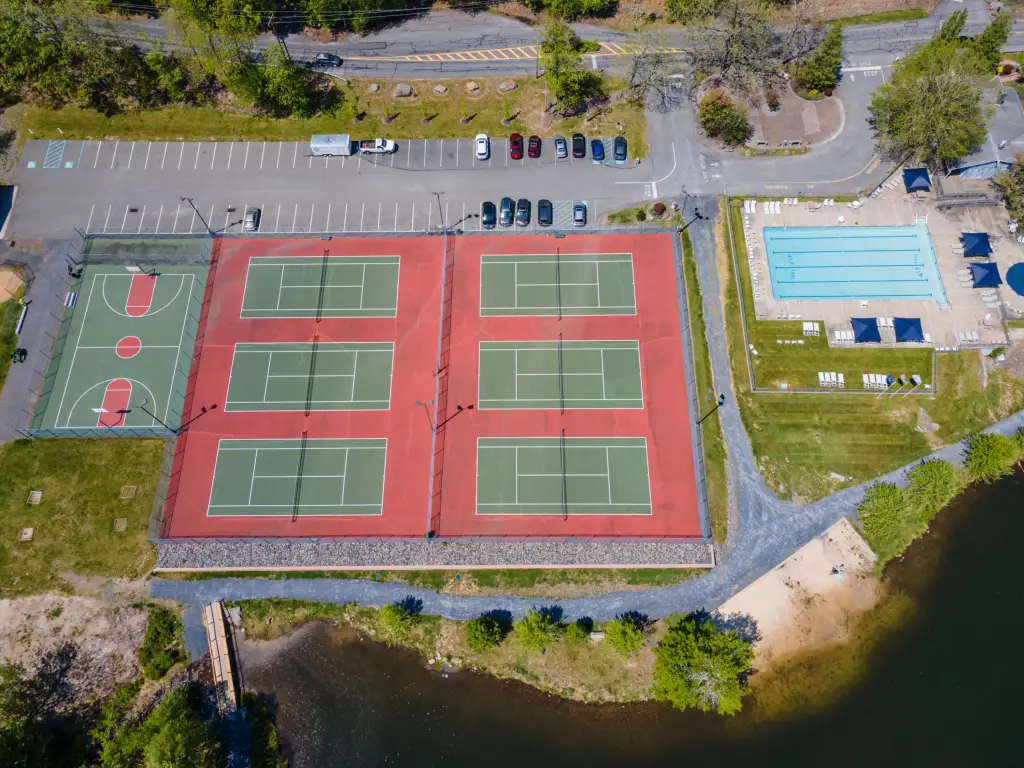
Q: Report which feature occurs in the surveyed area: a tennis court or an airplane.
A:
tennis court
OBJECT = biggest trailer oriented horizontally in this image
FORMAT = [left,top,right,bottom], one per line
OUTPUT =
[309,134,357,155]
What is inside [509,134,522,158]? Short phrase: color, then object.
red vehicle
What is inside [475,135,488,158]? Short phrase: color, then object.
white vehicle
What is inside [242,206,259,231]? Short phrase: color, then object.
gray car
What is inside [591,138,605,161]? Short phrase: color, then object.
blue car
